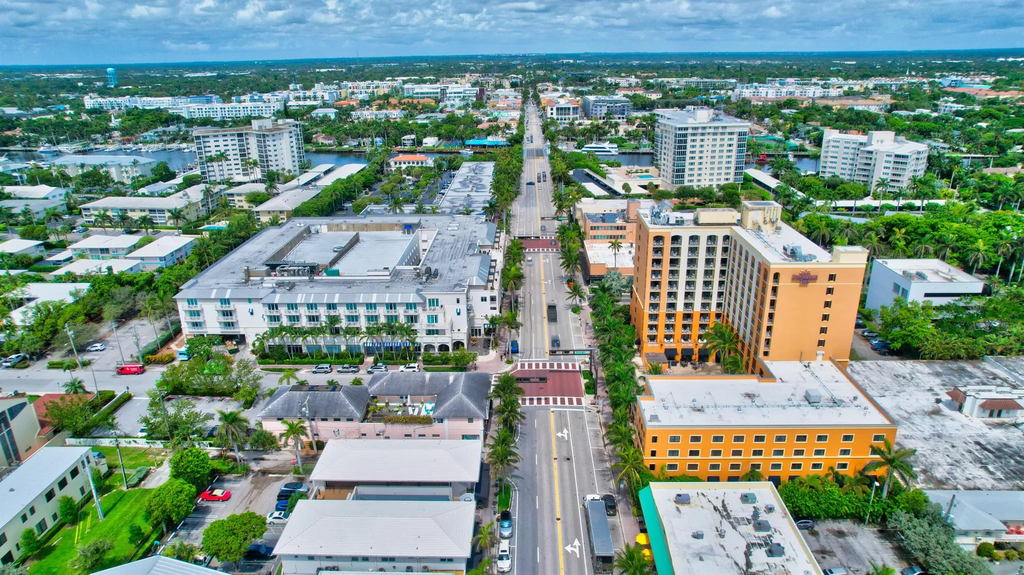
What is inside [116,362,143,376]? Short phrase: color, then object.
red vehicle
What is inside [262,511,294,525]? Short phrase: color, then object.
white car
